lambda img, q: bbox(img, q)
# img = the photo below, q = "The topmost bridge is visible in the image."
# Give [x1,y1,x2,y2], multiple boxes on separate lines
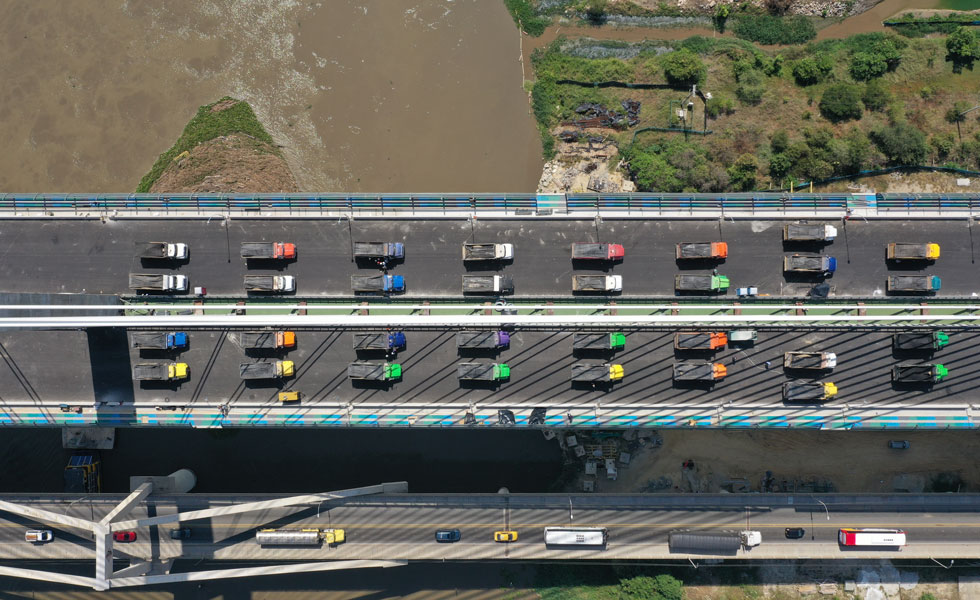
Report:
[0,192,980,432]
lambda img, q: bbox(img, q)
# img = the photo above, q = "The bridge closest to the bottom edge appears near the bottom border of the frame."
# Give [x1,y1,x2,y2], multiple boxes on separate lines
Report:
[0,467,980,589]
